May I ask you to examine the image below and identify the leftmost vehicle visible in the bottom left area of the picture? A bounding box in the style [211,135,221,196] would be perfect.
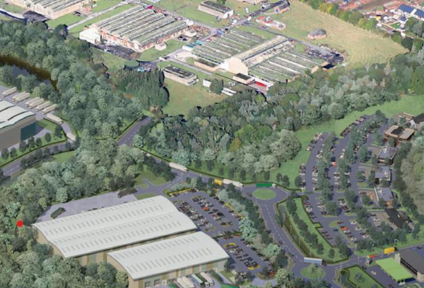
[50,204,65,217]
